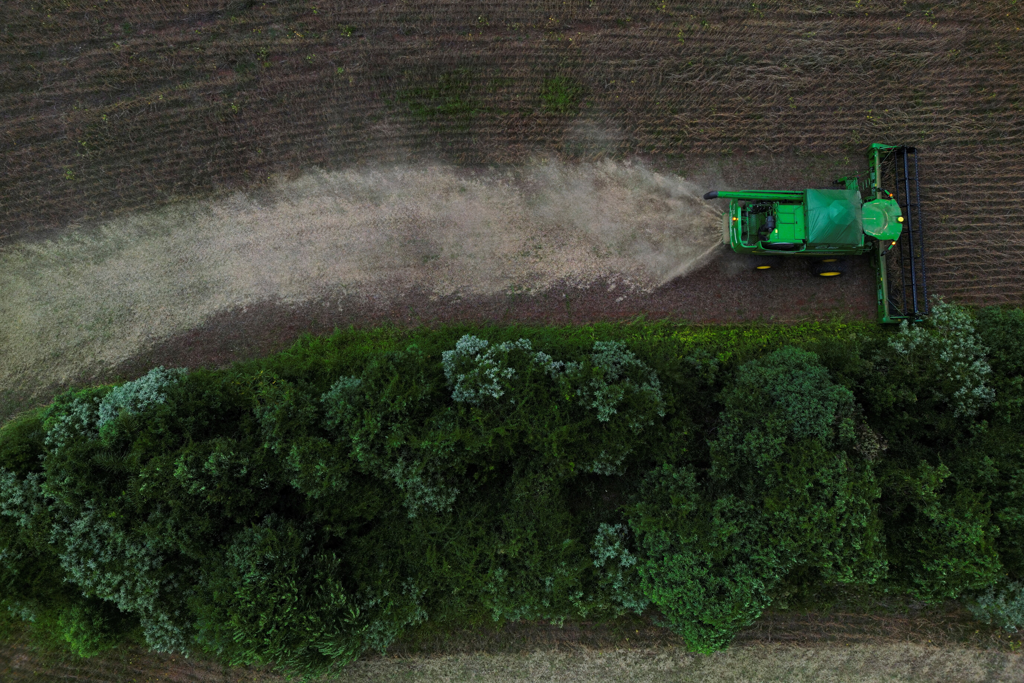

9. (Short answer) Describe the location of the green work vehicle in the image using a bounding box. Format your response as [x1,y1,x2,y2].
[702,143,928,327]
